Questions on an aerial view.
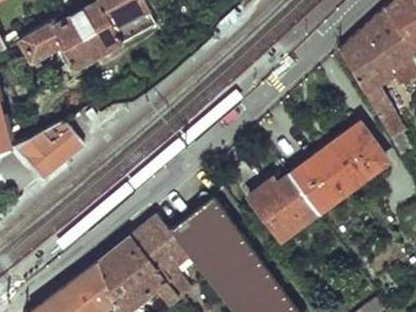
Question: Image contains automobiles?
Yes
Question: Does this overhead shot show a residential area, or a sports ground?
residential area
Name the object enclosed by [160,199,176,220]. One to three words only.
car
